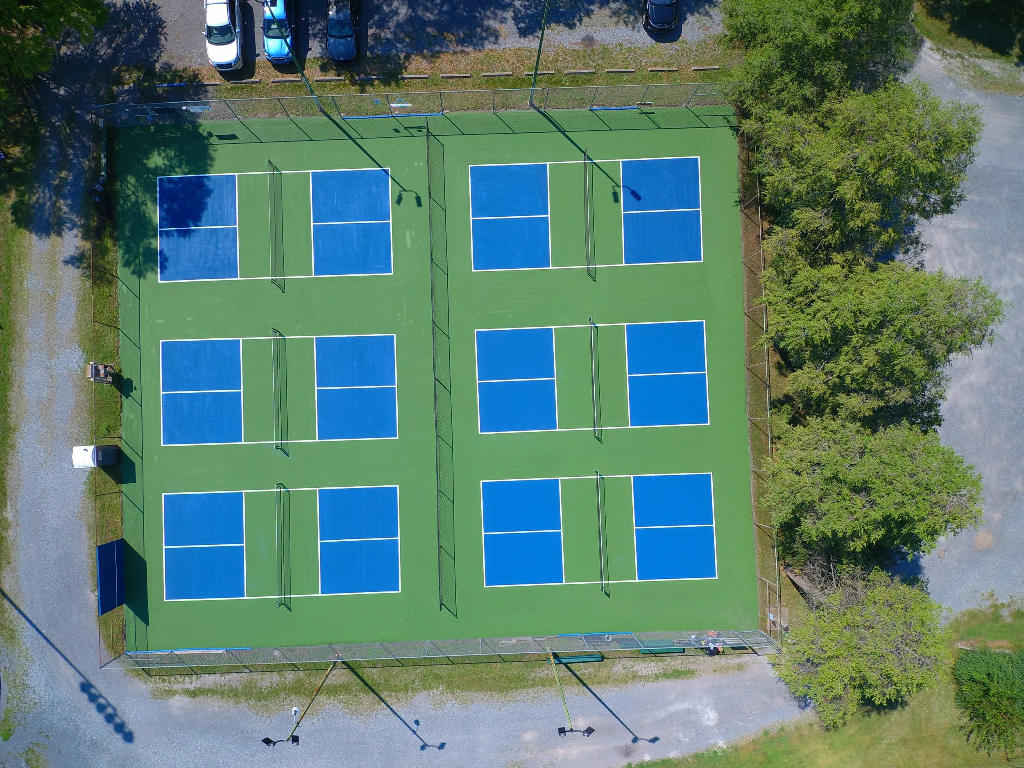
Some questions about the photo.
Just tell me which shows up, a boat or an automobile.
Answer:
automobile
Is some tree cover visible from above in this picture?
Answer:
Yes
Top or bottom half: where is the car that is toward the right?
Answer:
top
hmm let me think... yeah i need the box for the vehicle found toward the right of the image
[638,0,675,37]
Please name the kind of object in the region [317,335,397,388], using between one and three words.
sports court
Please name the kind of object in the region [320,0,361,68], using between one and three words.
car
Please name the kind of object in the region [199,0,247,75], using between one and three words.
car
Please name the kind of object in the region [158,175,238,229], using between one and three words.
sports court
